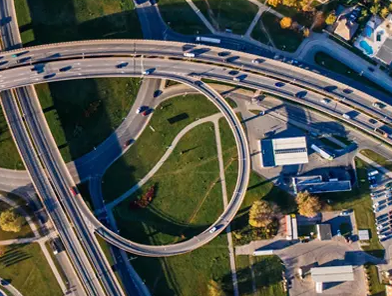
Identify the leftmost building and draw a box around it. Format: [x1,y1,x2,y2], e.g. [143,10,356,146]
[258,139,275,167]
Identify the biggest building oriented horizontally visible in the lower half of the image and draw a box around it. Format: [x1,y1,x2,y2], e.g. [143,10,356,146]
[290,175,352,195]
